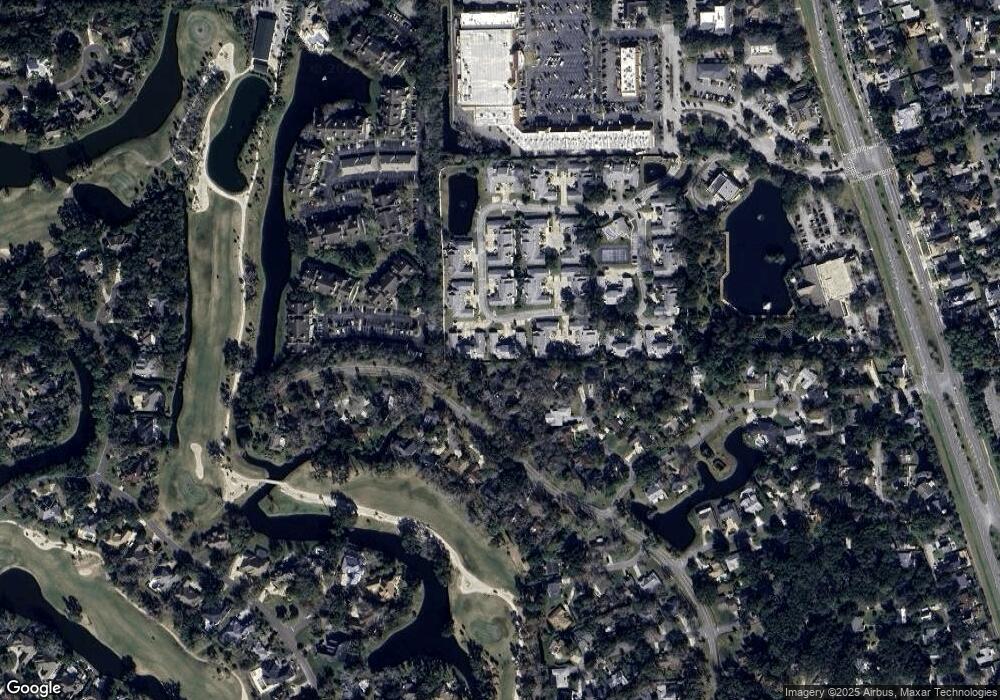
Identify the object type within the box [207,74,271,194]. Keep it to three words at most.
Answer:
pond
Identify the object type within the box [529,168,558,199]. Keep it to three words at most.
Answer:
house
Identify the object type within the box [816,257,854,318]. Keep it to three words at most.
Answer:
building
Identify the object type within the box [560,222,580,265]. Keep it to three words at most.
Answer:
house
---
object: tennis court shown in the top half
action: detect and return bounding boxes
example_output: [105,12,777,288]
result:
[598,246,631,264]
